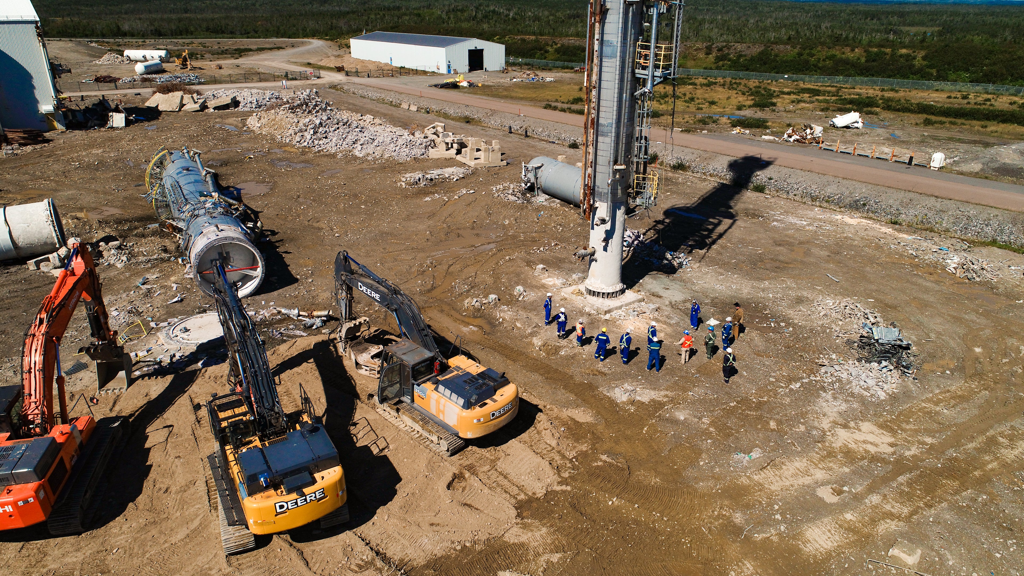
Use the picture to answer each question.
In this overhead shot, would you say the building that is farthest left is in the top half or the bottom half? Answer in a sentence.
It is in the top half that the building that is farthest left appears.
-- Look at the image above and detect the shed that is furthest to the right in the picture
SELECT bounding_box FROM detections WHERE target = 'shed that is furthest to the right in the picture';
[353,30,507,73]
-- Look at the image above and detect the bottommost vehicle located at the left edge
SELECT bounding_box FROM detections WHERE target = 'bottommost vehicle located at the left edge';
[0,237,136,521]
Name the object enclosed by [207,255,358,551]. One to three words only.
work vehicle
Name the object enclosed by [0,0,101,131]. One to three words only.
building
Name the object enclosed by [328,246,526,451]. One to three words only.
work vehicle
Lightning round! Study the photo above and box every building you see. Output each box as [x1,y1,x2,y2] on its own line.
[353,30,507,73]
[0,0,101,131]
